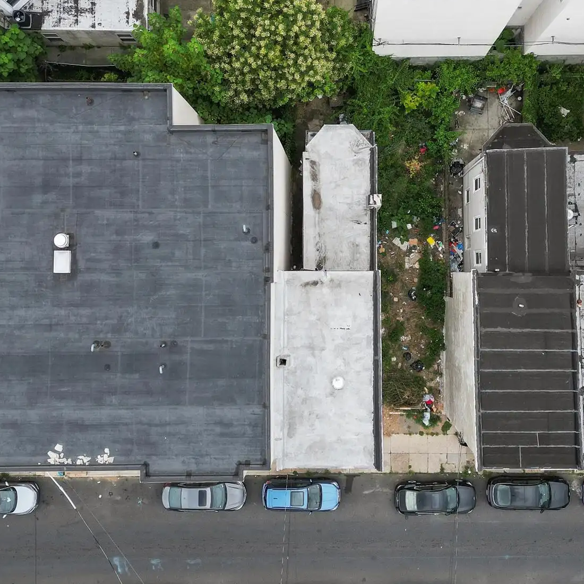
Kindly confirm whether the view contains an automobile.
Yes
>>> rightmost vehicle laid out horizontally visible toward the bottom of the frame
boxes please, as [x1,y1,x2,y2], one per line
[485,475,570,515]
